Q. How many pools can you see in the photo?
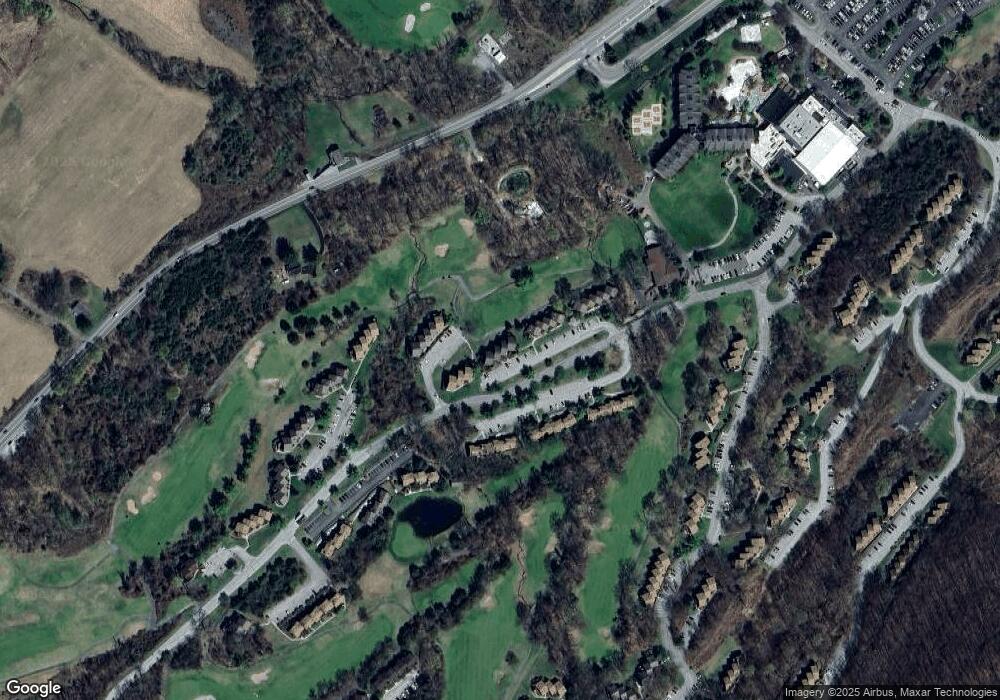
one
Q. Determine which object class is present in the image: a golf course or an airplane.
golf course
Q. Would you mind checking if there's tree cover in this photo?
Yes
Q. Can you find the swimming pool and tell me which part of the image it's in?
top right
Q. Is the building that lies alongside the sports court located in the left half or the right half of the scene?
right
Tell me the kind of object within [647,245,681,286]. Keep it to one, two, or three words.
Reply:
building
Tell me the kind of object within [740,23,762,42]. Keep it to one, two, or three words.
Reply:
building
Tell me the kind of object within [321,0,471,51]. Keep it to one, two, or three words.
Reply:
golf course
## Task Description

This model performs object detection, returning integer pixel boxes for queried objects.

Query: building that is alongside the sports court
[650,68,755,180]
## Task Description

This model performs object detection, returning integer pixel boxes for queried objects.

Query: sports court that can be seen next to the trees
[632,104,662,135]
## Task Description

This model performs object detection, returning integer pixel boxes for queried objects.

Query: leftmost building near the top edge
[479,33,505,63]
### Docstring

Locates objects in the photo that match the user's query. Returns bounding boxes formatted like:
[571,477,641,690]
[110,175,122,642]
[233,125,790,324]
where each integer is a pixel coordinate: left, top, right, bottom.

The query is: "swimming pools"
[712,55,768,125]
